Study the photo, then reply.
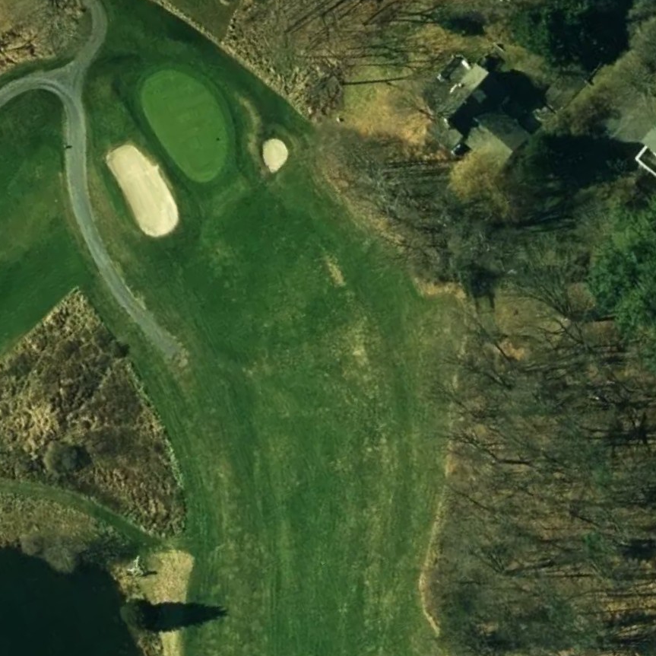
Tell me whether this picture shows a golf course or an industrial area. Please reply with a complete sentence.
This image shows a golf course.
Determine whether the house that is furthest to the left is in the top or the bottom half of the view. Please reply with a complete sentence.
It is in the top half that the house that is furthest to the left appears.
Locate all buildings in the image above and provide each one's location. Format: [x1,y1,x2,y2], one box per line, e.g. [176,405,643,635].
[436,55,532,172]
[633,130,656,176]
